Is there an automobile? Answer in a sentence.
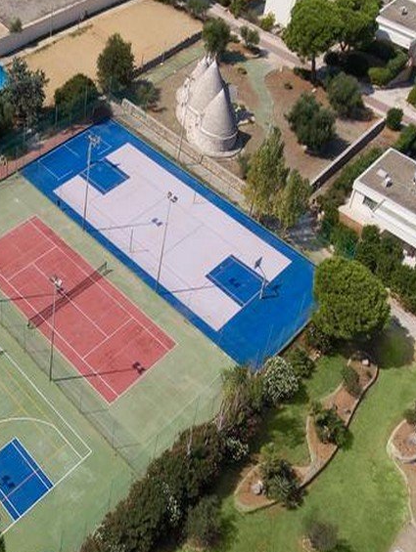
No, no automobile can be seen from above.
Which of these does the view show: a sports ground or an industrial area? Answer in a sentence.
The area seen from above is a sports ground.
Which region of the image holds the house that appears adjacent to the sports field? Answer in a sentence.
You can find the house that appears adjacent to the sports field in the top area of the picture.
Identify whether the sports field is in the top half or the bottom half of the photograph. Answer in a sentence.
The sports field is in the top half of the image.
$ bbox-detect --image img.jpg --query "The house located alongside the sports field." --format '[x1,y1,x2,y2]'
[172,56,236,158]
